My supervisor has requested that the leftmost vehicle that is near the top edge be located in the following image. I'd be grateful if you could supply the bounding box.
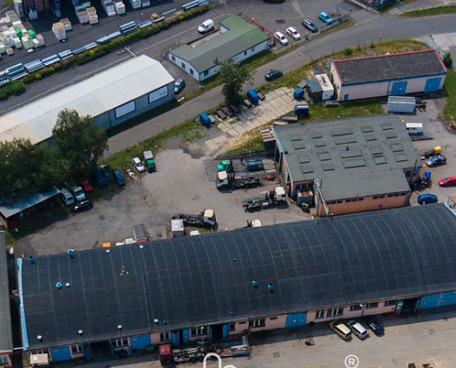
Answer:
[198,16,214,33]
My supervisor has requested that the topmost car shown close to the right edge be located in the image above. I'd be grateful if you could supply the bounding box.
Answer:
[426,155,448,168]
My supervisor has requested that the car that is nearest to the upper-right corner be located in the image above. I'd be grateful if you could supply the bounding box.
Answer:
[317,11,333,25]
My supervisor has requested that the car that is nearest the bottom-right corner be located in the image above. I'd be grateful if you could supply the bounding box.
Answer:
[365,318,386,336]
